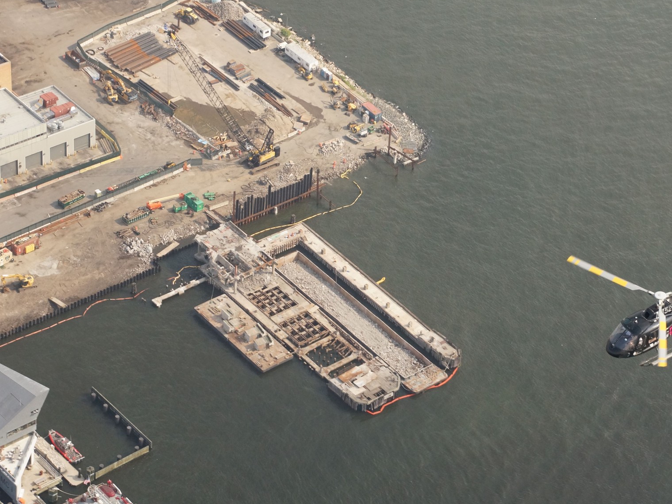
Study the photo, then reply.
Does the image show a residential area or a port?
port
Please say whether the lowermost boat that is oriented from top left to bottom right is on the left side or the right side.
left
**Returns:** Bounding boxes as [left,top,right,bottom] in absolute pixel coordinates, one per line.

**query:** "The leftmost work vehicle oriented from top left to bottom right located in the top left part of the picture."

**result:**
[104,64,140,101]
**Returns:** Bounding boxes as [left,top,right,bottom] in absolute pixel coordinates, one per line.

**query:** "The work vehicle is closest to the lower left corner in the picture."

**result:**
[4,269,38,292]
